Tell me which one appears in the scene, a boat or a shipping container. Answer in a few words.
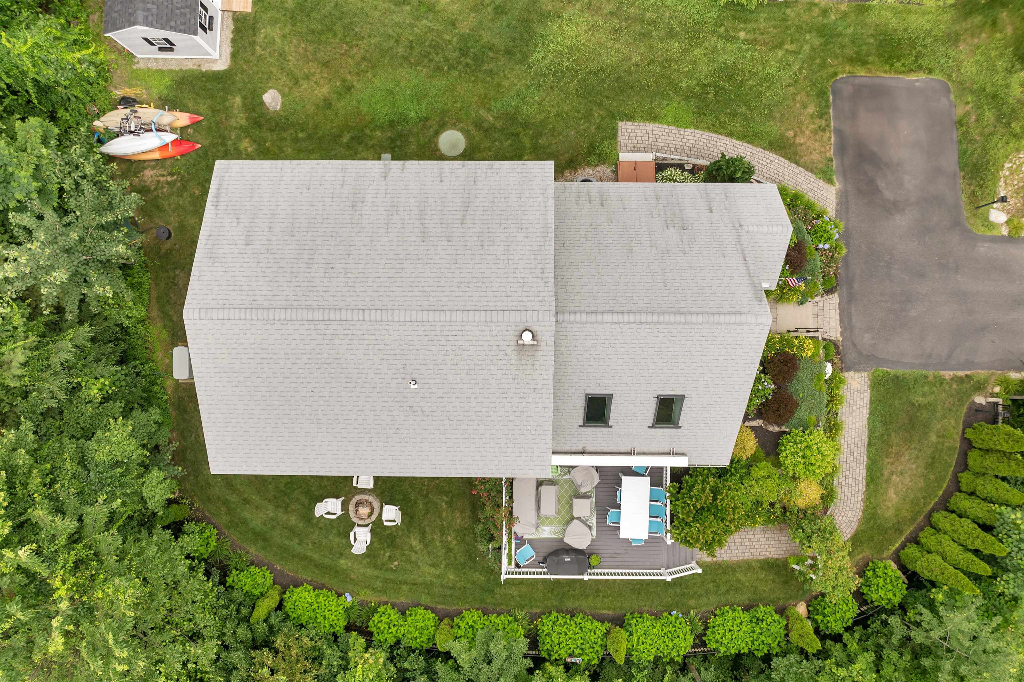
boat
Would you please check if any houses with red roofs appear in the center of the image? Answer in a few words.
No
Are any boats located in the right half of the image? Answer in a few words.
No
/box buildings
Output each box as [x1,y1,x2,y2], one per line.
[103,0,220,58]
[183,158,794,476]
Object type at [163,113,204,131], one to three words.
boat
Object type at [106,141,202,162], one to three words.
boat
